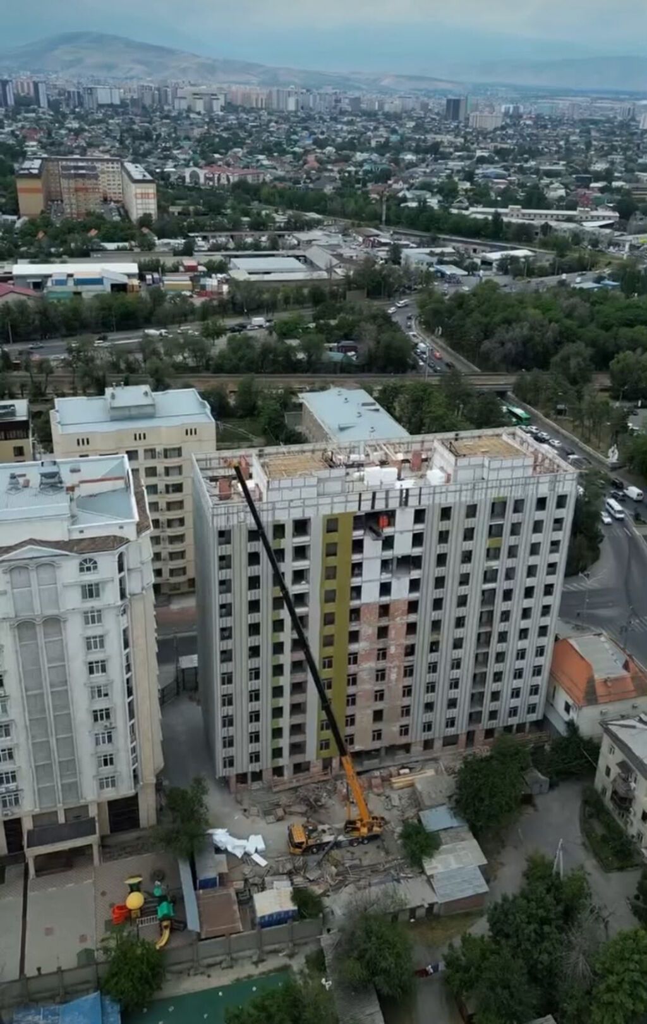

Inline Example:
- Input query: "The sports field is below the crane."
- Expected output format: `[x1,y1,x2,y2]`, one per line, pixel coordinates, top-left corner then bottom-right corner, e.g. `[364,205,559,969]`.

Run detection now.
[125,962,306,1024]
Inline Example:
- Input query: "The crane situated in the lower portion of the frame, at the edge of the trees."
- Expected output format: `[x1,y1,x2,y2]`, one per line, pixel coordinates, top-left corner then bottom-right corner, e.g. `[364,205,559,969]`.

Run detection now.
[233,461,389,855]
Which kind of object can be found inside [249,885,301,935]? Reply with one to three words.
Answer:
building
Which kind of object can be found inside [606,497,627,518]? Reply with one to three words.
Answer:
vehicle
